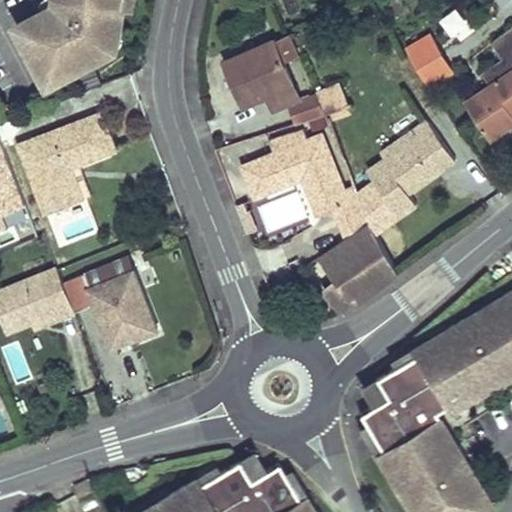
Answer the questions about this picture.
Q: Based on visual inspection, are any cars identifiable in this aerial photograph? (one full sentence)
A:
Yes, you can see a car in this photo.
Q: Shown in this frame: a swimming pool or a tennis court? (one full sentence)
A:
Visible in the photo is a swimming pool.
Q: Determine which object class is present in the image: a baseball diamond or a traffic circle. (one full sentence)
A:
Of the two, only a traffic circle appears.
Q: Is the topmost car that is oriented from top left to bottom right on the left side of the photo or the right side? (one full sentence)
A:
The topmost car that is oriented from top left to bottom right sits on the right side.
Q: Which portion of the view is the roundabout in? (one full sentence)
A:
The roundabout is in the bottom part of the image.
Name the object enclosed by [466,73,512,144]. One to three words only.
house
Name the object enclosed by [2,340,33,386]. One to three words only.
swimming pool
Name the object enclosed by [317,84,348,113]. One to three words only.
shed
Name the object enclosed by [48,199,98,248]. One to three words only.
swimming pool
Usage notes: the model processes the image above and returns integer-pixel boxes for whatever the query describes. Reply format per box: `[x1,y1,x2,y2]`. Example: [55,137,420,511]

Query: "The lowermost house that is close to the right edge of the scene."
[378,423,496,512]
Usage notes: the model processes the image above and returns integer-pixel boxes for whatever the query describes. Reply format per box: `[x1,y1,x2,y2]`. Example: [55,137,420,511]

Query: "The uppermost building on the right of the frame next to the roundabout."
[238,122,454,240]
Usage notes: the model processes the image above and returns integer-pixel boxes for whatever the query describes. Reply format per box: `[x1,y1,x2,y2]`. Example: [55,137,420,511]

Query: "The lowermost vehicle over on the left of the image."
[123,356,136,377]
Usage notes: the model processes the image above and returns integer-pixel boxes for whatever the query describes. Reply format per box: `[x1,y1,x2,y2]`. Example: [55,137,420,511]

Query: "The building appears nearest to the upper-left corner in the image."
[6,0,134,96]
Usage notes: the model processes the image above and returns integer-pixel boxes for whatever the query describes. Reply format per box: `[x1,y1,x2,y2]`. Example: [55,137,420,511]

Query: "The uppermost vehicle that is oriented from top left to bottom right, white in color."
[466,162,486,184]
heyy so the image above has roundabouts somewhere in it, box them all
[190,320,368,474]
